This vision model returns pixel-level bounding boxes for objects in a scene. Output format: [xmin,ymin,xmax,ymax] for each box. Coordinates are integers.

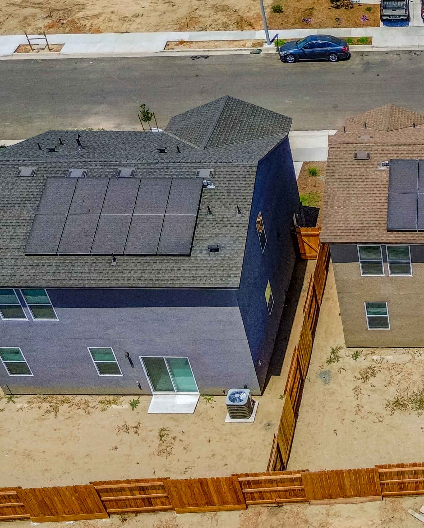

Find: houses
[321,103,424,347]
[0,96,302,396]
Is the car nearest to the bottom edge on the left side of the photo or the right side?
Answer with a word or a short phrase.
right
